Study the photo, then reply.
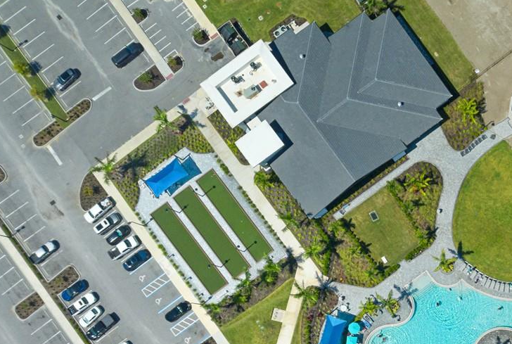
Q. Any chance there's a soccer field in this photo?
No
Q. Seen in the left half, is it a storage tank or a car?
car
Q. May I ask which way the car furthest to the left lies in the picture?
diagonally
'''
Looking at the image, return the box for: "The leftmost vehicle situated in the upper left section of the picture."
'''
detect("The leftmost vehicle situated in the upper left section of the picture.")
[54,68,81,90]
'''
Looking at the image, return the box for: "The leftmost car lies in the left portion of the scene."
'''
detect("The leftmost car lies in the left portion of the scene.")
[32,241,58,263]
